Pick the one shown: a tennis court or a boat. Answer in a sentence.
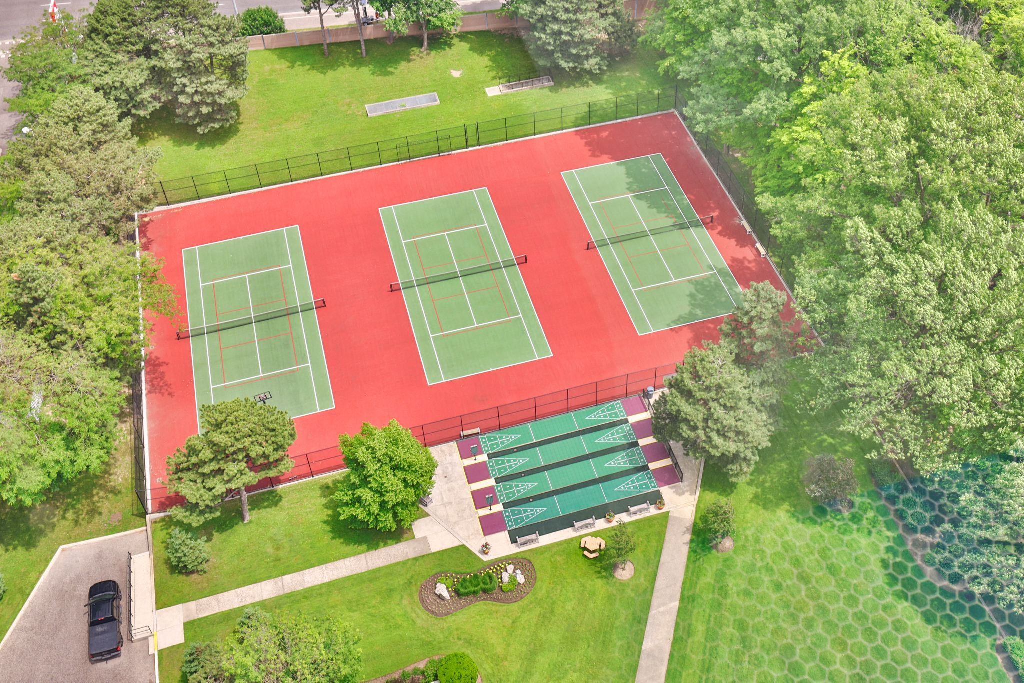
There is a tennis court in the scene.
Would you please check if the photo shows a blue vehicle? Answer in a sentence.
No, there isn't any blue vehicle down there.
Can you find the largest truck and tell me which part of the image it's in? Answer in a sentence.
The largest truck is located in the bottom left region of the scene.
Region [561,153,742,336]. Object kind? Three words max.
tennis court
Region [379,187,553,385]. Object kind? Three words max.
tennis court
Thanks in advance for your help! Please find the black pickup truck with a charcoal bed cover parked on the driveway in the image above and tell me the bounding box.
[83,581,125,663]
